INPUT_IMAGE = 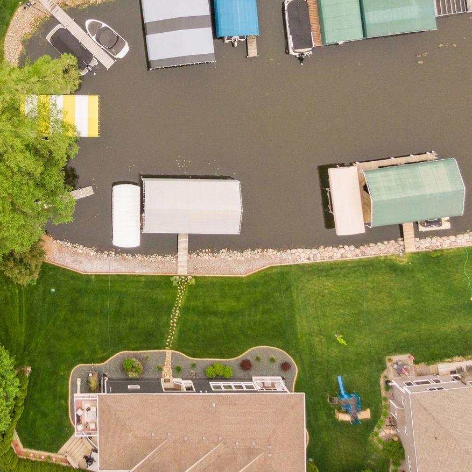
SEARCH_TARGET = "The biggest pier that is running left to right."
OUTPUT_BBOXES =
[353,151,438,170]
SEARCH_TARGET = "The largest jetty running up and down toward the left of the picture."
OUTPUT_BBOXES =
[175,234,189,275]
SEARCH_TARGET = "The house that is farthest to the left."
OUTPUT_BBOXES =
[57,364,307,472]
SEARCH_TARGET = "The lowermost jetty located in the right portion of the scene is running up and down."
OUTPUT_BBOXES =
[401,221,416,254]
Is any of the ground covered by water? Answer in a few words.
Yes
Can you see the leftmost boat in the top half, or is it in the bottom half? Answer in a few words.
top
